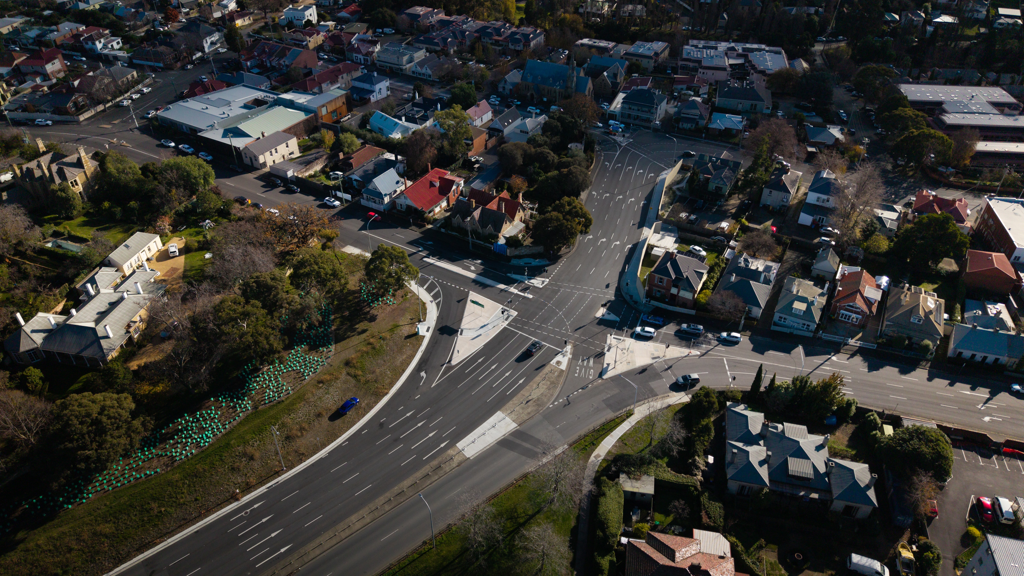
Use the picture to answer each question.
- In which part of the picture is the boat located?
bottom right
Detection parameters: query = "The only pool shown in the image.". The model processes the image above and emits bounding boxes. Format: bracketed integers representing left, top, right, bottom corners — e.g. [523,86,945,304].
[43,236,84,252]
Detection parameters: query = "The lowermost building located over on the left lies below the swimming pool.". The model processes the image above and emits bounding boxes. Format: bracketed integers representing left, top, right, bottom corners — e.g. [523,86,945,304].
[6,261,175,371]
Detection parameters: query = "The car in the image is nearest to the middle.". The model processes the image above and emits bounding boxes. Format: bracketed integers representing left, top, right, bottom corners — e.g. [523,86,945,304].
[525,342,545,356]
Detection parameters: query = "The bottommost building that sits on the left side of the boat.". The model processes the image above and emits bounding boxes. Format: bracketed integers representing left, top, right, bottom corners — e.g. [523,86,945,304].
[624,530,735,576]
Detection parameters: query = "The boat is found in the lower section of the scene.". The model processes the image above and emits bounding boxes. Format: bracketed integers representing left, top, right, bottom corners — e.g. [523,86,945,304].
[896,540,917,576]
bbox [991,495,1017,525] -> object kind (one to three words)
vehicle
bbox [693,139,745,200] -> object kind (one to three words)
house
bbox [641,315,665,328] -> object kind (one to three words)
vehicle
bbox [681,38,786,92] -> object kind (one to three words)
building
